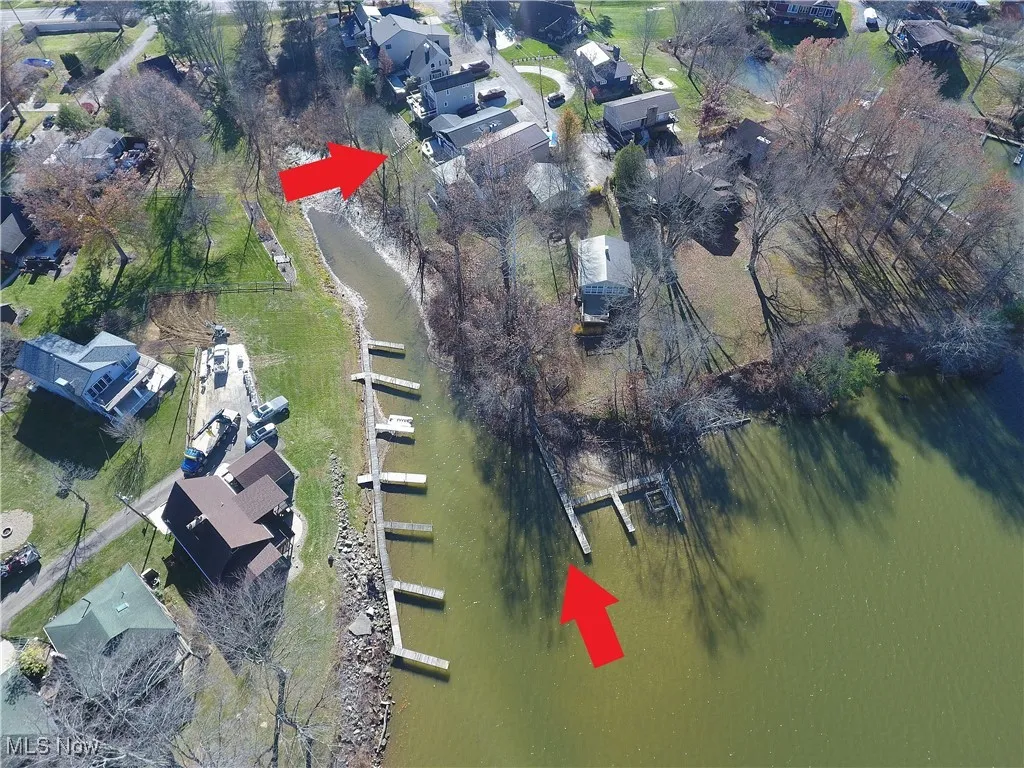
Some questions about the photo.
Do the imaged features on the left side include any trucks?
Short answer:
Yes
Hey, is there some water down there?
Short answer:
Yes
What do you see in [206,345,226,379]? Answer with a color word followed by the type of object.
white vehicle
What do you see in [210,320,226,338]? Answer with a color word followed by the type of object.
gray work vehicle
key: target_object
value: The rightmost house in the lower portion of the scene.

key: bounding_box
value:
[169,441,296,599]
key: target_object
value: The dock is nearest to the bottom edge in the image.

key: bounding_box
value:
[386,642,452,677]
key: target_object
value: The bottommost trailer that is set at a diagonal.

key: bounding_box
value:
[0,539,46,586]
